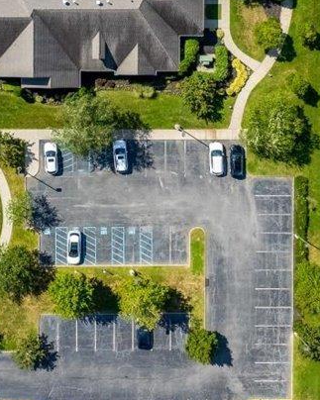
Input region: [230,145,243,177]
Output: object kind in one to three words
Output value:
vehicle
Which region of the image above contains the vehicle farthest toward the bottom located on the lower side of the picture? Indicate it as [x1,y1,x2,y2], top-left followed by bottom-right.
[137,320,152,352]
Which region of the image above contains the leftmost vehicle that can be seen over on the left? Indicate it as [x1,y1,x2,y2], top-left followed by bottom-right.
[43,140,57,174]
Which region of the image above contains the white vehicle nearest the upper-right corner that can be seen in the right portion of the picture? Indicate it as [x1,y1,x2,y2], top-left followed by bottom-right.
[210,143,223,175]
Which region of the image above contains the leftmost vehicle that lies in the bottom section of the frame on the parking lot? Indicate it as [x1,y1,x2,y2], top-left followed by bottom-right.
[67,231,82,263]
